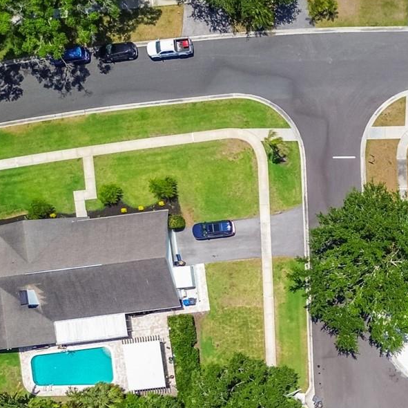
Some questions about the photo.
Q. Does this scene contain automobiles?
Yes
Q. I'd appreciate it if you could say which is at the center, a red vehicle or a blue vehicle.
blue vehicle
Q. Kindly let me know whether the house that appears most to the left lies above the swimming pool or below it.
above it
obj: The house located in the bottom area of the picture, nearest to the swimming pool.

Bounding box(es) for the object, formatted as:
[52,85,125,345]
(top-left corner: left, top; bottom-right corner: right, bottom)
[0,210,186,351]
